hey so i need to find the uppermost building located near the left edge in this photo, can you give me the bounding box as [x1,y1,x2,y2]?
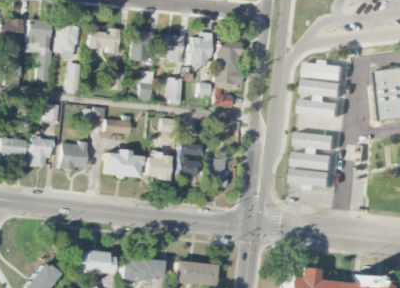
[0,17,25,40]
